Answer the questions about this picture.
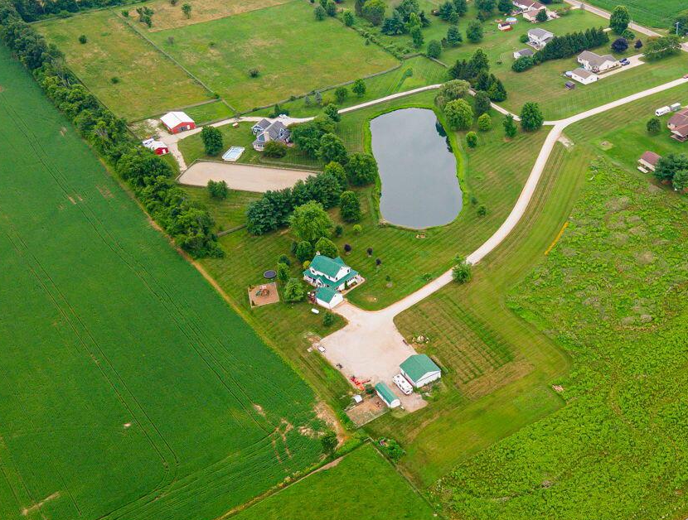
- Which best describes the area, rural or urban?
rural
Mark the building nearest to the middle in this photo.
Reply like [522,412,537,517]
[297,253,360,316]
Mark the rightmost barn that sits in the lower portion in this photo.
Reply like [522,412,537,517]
[398,353,442,389]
